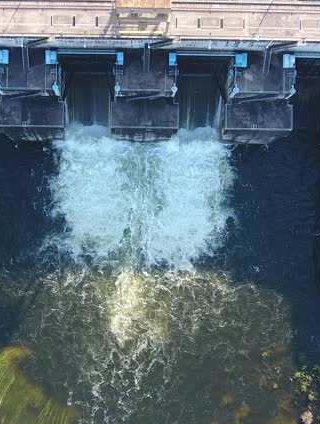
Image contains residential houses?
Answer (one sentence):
No, there appears to be no residential house in this shot.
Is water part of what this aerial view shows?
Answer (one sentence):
Yes, water can be seen from above here.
